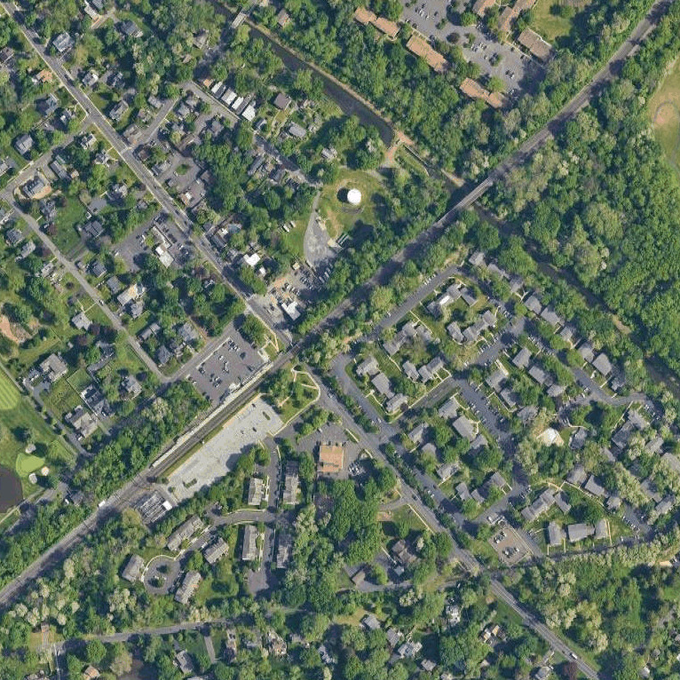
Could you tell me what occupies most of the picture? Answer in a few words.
trees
